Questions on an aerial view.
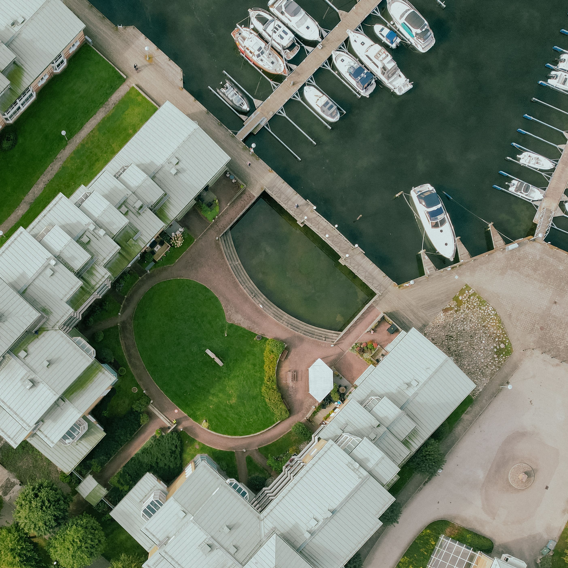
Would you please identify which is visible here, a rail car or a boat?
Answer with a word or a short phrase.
boat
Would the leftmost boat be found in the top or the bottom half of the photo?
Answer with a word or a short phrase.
top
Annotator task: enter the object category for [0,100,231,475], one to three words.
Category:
building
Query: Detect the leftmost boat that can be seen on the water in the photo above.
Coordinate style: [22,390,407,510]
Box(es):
[215,78,249,111]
